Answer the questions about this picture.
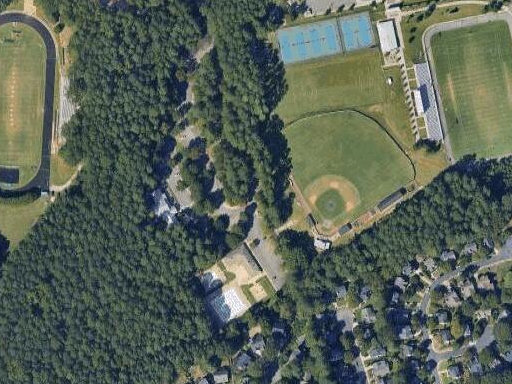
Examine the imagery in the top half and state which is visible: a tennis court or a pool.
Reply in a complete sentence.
Looking in the top half, you will find a tennis court.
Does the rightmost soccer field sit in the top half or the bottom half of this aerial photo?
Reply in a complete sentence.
The rightmost soccer field sits in the top half of the picture.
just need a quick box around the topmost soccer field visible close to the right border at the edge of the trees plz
[423,10,512,167]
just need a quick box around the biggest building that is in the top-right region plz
[377,20,399,53]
